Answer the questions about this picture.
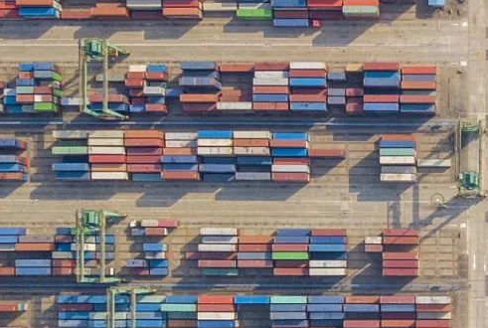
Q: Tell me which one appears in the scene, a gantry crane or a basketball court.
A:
gantry crane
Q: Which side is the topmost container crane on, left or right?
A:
left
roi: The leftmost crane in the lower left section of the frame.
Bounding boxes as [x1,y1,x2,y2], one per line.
[75,205,129,284]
